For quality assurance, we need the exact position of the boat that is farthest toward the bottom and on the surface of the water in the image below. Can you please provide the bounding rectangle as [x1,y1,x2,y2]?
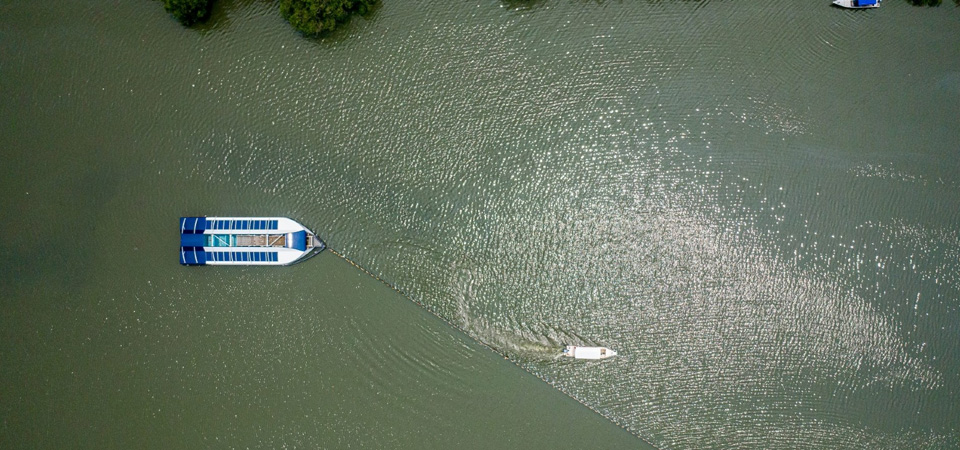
[564,346,617,359]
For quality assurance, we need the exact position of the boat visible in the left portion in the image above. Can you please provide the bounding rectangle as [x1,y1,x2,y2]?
[178,216,325,266]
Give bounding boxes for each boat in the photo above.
[832,0,880,8]
[564,346,617,359]
[178,216,325,266]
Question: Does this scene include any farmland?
No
